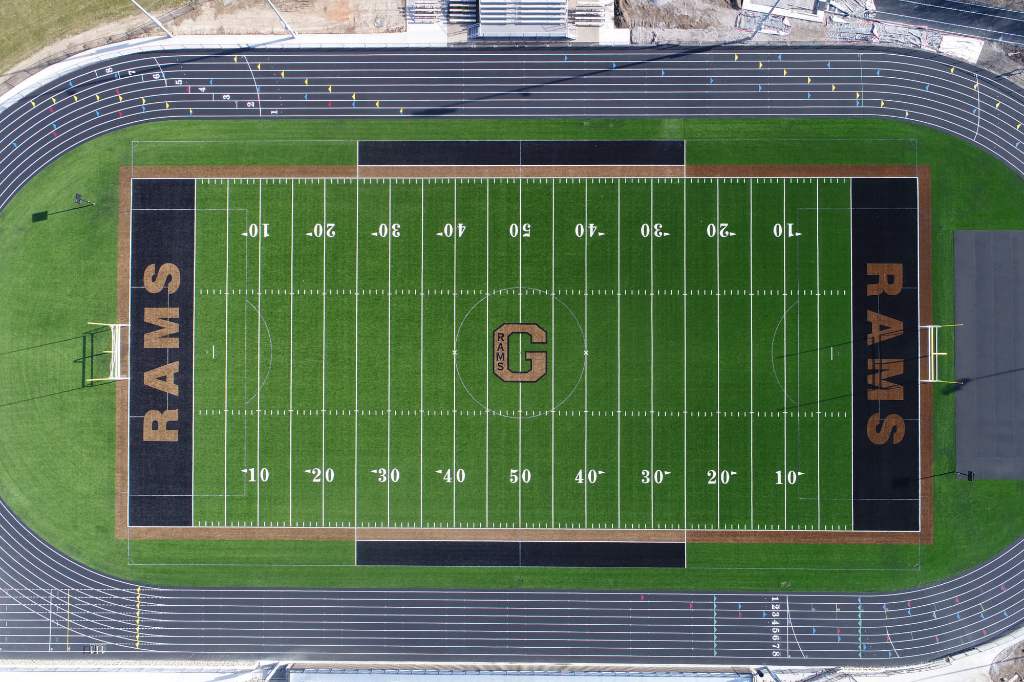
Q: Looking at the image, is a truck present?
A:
No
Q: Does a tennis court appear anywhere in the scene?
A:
No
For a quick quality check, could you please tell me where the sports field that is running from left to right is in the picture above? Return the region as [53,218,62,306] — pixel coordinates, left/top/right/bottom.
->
[0,117,1024,592]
